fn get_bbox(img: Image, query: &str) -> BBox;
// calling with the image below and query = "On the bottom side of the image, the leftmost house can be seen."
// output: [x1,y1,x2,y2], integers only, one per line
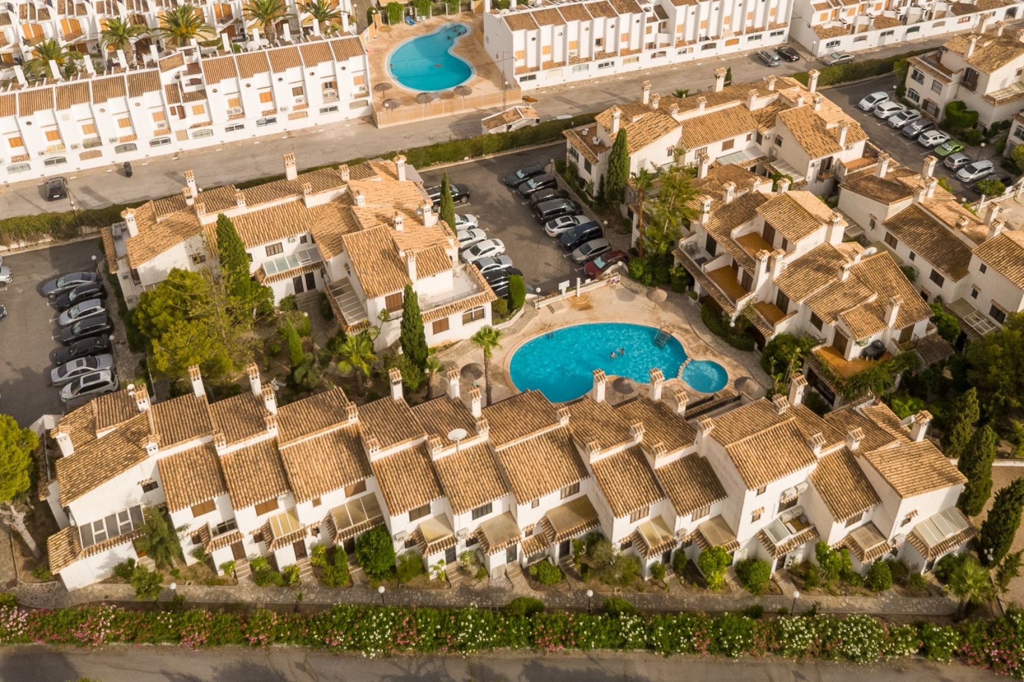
[35,383,171,593]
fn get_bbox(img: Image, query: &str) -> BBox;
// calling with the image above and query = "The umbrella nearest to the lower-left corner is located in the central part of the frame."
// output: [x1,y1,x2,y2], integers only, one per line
[459,366,484,386]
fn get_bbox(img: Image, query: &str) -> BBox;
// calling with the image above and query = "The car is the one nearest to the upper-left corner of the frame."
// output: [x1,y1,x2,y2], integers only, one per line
[46,175,68,204]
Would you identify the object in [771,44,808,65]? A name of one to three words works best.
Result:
car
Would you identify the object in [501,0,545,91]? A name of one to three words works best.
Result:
house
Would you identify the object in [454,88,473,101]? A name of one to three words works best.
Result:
umbrella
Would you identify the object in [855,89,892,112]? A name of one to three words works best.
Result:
car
